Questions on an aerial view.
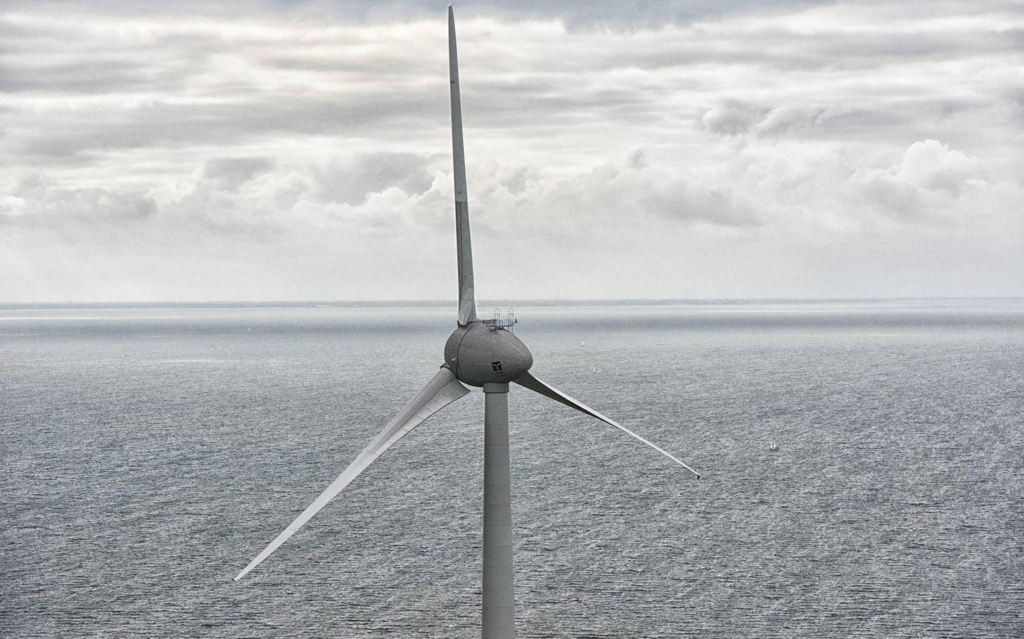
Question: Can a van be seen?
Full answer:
No, no van is visible in the view.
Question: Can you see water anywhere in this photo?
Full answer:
Yes, there is water in the image.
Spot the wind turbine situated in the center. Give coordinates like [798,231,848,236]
[234,5,700,639]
